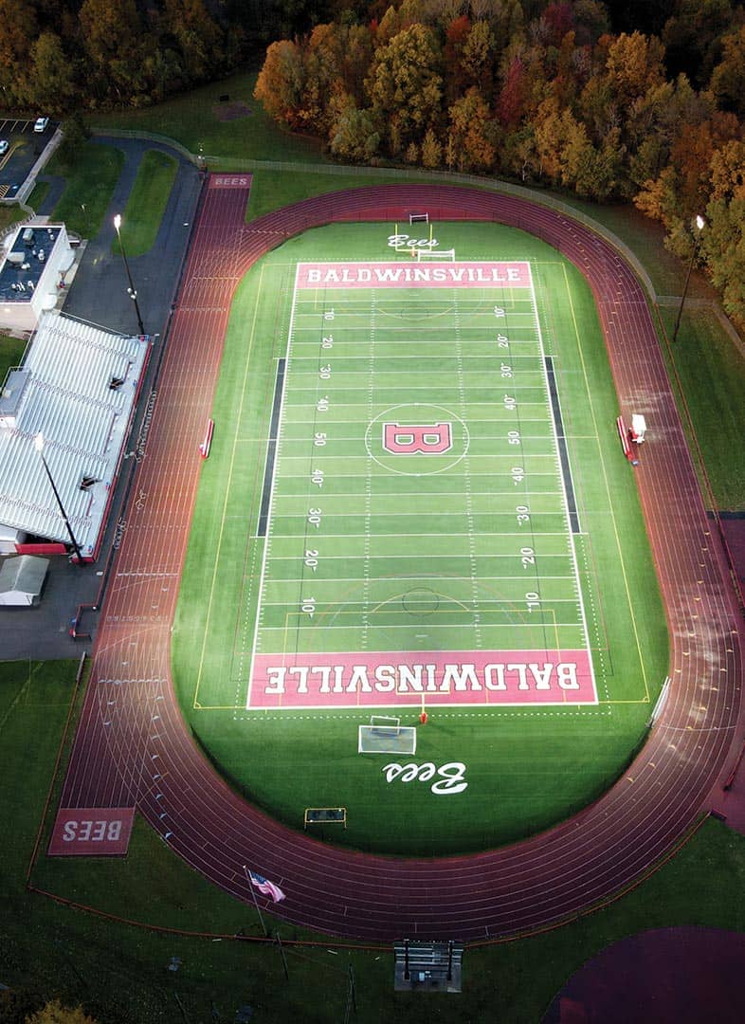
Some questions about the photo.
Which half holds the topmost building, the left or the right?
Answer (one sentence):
It is on the left.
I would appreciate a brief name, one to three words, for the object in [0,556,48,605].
shed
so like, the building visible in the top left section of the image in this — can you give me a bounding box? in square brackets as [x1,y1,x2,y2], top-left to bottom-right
[0,226,68,328]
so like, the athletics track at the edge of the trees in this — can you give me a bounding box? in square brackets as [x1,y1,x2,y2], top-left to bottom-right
[43,174,745,944]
